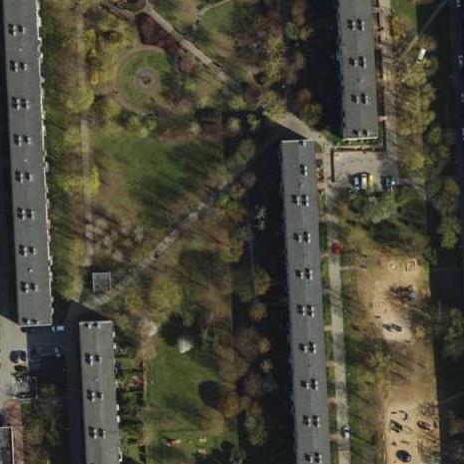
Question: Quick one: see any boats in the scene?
No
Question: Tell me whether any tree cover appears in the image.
Yes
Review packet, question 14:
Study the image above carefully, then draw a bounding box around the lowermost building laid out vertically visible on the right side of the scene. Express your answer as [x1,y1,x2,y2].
[279,140,333,464]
